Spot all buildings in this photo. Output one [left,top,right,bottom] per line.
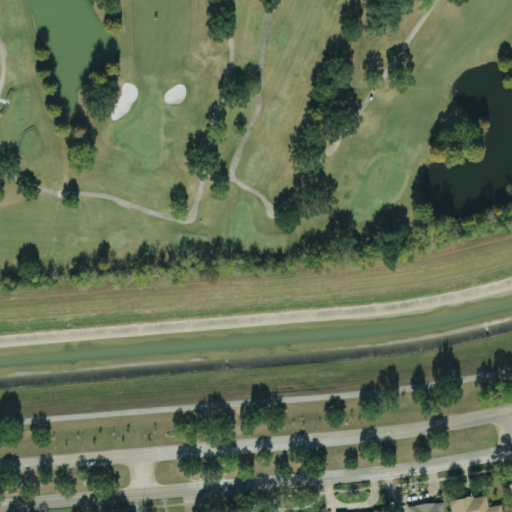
[450,498,504,512]
[409,501,446,512]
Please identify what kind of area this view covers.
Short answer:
golf course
